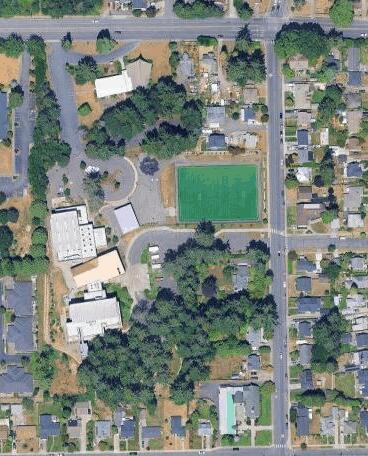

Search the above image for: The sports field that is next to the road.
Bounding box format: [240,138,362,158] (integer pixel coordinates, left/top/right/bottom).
[177,163,261,224]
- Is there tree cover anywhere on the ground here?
Yes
